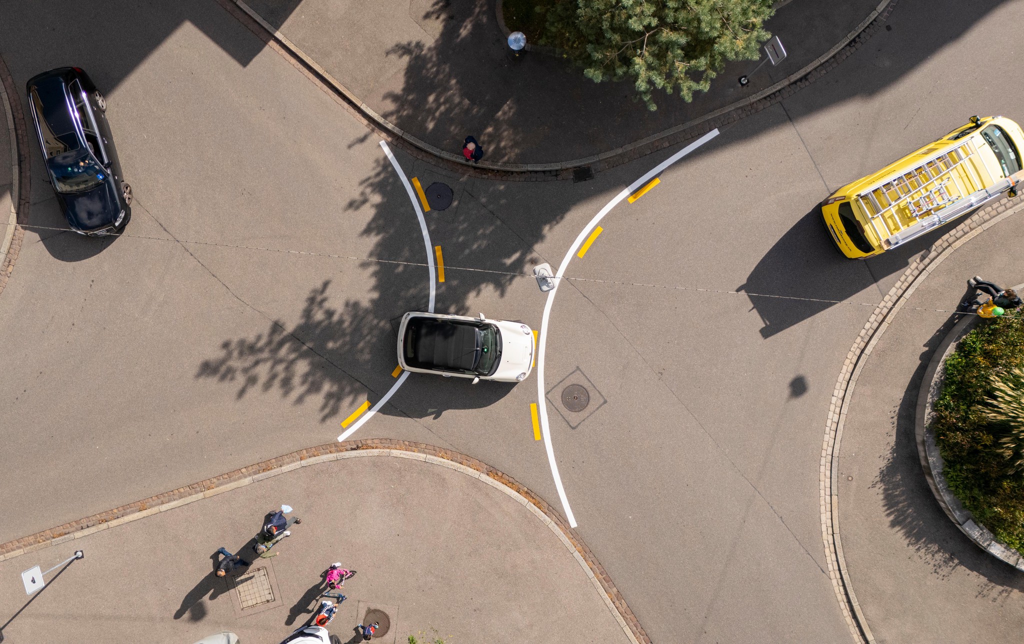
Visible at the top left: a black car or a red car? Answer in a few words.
black car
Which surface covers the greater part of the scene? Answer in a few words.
paved ground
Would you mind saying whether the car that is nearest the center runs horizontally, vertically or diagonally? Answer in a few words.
horizontally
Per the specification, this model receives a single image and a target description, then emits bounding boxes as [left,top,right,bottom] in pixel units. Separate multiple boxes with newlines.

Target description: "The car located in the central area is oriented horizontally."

[398,312,533,383]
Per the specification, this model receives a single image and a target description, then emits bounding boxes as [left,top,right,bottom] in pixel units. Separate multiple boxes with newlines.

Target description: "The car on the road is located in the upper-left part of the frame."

[24,65,134,237]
